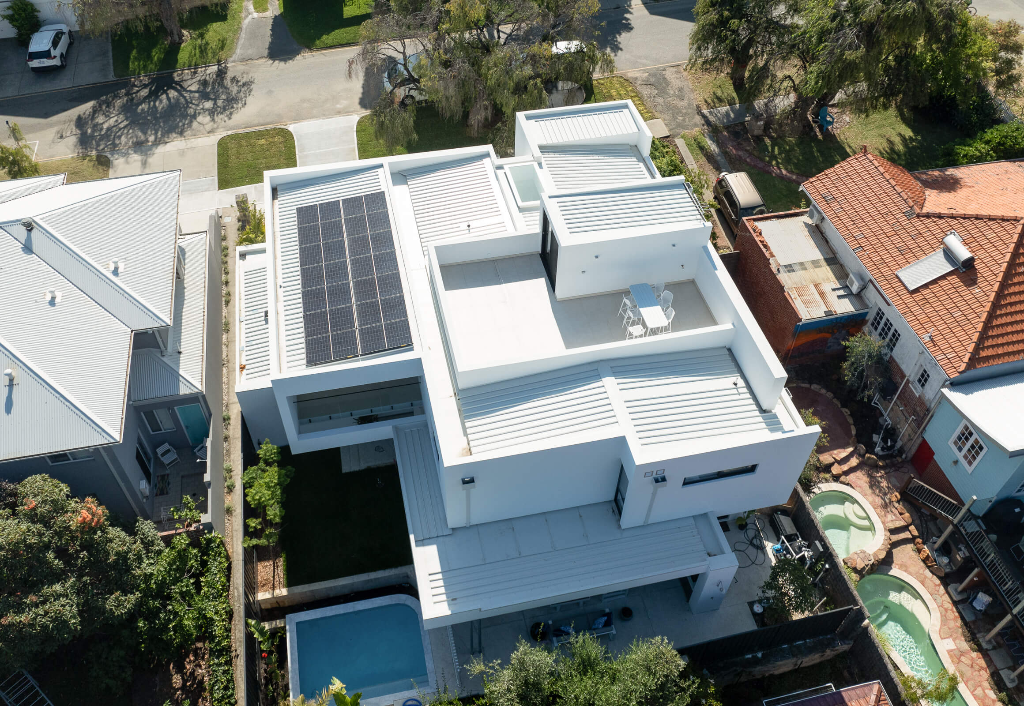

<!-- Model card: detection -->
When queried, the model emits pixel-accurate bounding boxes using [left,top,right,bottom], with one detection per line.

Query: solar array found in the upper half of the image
[294,191,417,368]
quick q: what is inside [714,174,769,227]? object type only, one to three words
car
